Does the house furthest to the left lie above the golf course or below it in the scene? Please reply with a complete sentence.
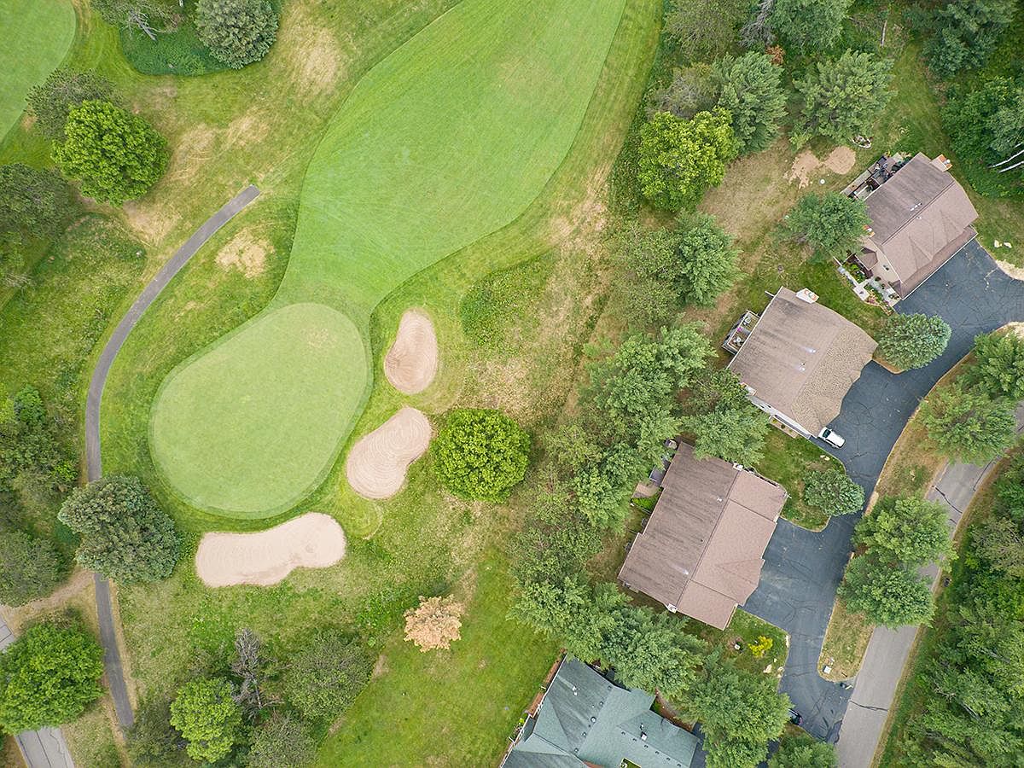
Within the scene, the house furthest to the left can be found below the golf course.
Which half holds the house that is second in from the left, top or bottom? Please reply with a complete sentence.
It is in the bottom half that the house that is second in from the left appears.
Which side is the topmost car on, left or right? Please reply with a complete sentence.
The topmost car appears in the right half of the scene.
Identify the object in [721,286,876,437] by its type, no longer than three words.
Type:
house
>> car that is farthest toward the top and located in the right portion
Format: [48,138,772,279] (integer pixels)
[817,428,845,450]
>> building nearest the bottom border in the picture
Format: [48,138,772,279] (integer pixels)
[502,651,699,768]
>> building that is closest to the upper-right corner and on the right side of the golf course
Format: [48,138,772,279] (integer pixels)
[841,152,979,300]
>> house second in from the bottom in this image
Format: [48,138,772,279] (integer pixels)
[617,441,787,630]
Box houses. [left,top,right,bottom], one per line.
[502,651,699,768]
[841,152,979,300]
[721,286,876,437]
[617,441,787,630]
